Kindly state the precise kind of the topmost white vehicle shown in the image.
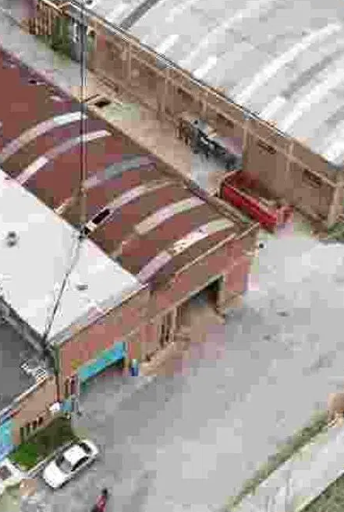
automobile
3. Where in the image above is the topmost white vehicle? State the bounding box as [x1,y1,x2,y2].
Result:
[39,429,100,482]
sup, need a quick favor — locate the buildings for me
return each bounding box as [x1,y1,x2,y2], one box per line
[62,0,344,233]
[0,43,258,419]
